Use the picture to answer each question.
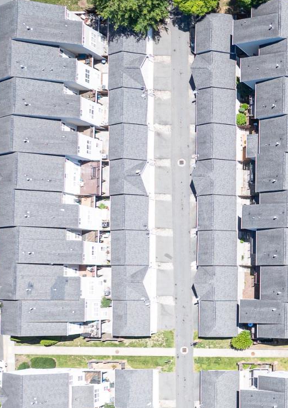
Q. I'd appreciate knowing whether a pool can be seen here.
No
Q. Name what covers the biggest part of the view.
buildings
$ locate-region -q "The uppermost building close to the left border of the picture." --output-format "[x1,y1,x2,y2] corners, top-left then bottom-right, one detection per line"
[0,0,106,55]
